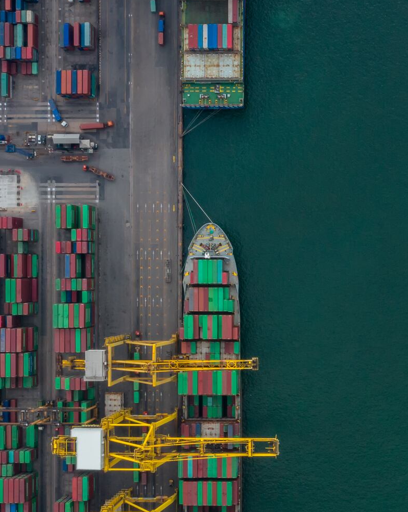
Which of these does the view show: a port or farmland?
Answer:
port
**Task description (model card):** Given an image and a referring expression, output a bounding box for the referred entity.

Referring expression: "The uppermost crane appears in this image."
[60,328,259,389]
